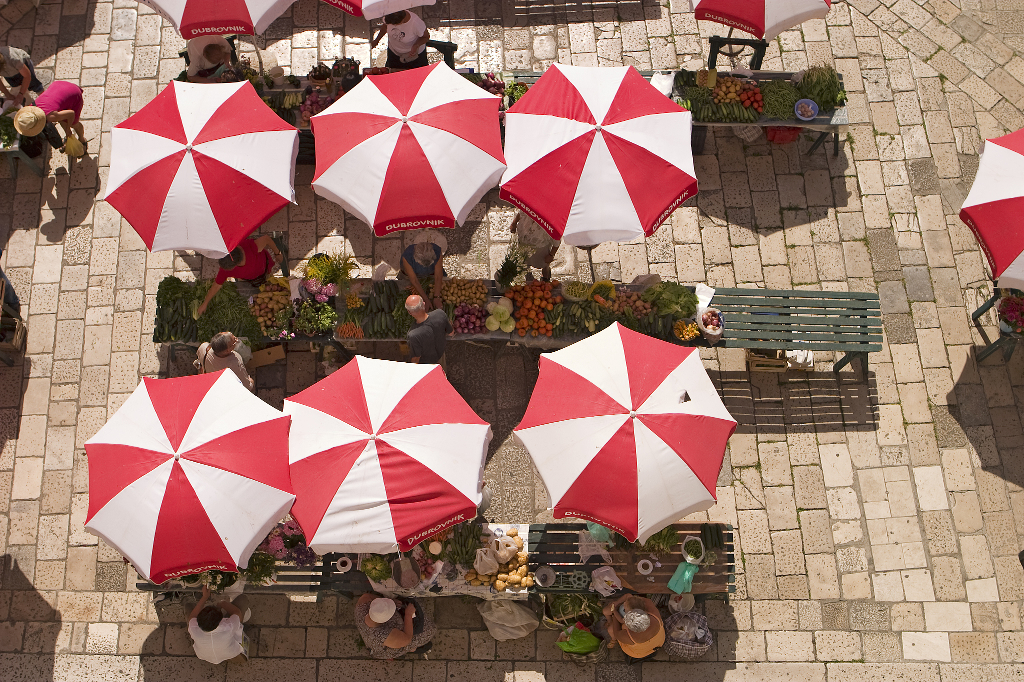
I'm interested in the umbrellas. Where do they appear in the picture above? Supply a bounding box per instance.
[336,0,438,67]
[83,368,296,585]
[126,0,295,77]
[103,79,300,259]
[308,59,508,247]
[684,0,835,56]
[497,62,698,253]
[283,354,492,553]
[512,319,738,544]
[957,123,1024,293]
